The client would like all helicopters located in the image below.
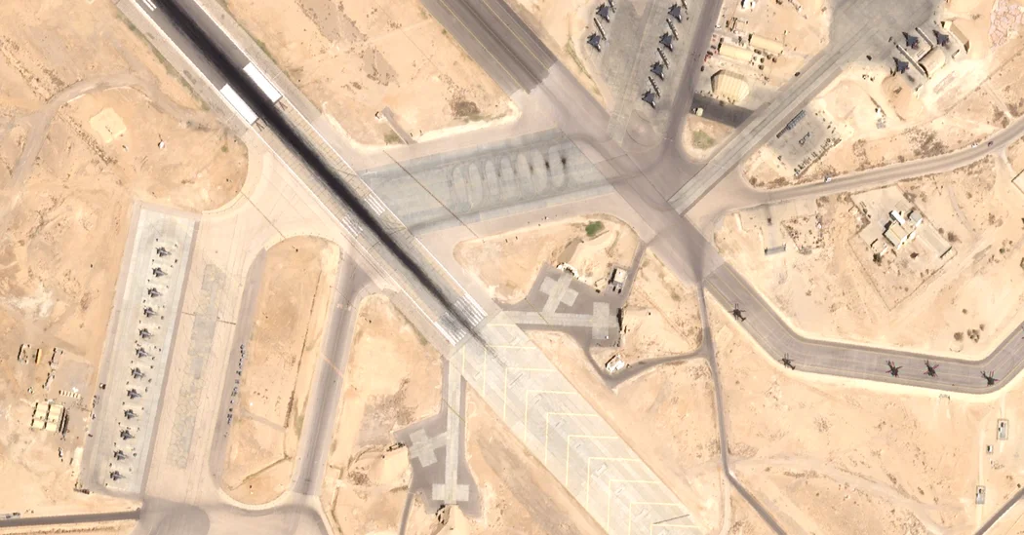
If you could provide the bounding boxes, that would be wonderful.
[983,371,999,387]
[924,360,937,376]
[729,307,746,319]
[888,361,902,377]
[779,357,795,369]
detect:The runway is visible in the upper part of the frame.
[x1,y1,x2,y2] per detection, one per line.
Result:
[134,0,501,360]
